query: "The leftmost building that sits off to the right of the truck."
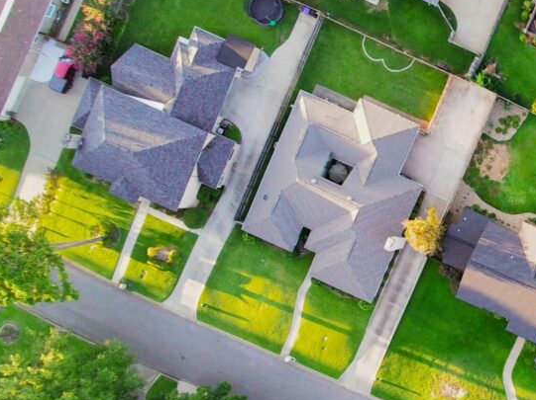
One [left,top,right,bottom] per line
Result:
[70,26,242,211]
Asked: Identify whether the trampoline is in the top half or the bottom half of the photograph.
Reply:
top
